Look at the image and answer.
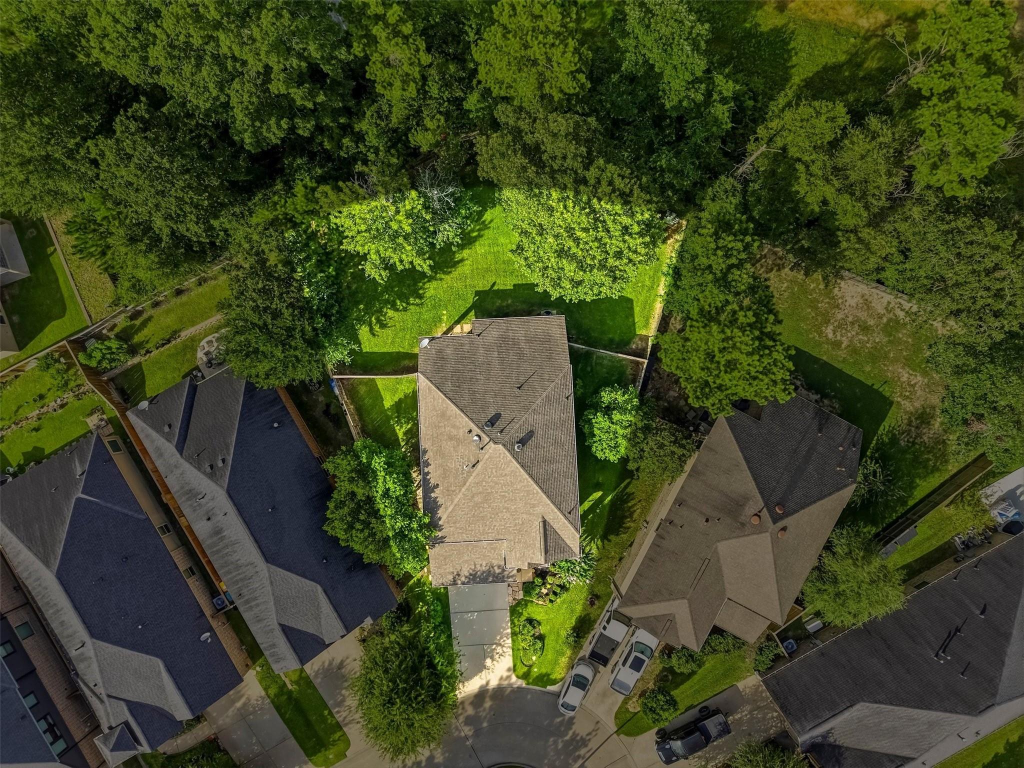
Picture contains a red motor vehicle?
No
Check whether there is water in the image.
No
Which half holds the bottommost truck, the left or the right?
right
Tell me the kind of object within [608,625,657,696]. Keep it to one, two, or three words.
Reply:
car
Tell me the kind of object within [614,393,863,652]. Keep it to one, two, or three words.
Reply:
house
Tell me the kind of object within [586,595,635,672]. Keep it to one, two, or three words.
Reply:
truck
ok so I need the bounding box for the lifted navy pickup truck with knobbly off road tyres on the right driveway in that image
[658,701,731,757]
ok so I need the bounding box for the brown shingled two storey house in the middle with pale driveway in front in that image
[416,314,582,588]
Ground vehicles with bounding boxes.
[608,625,657,696]
[658,701,731,757]
[555,655,595,718]
[586,595,635,672]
